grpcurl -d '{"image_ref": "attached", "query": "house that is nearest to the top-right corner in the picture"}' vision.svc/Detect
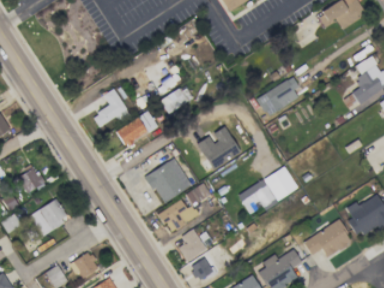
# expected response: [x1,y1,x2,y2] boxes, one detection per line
[320,0,364,30]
